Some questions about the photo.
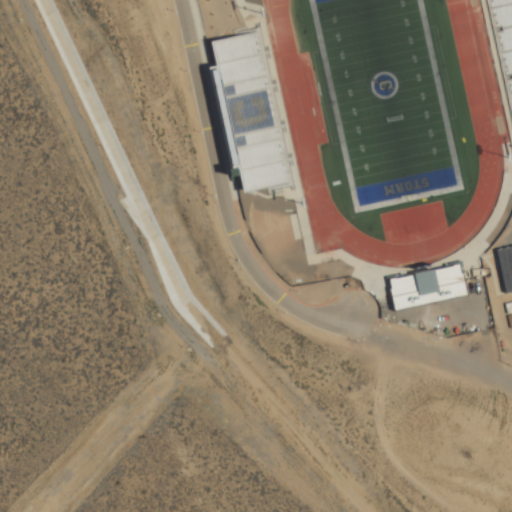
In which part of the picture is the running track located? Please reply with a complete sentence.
The running track appears toward the top right of the photo.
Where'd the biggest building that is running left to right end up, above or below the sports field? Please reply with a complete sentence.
The position of the biggest building that is running left to right is below the sports field.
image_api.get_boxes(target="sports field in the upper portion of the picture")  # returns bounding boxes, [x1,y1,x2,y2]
[289,0,478,242]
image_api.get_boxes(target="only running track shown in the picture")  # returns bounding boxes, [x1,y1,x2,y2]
[263,0,511,268]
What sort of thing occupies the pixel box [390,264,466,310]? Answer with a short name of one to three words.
building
